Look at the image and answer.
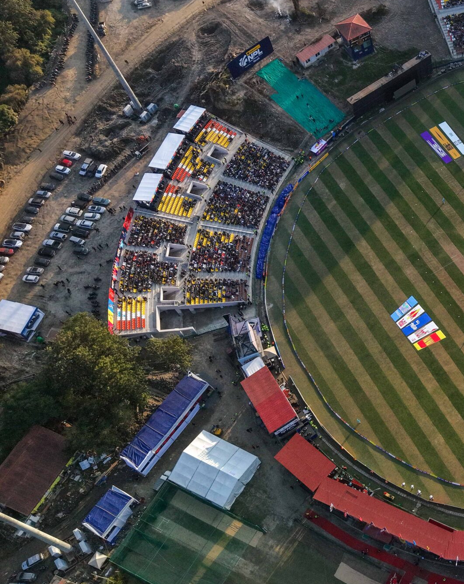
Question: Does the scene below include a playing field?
Yes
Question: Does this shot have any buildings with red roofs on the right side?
Yes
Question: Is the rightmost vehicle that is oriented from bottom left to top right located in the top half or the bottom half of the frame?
bottom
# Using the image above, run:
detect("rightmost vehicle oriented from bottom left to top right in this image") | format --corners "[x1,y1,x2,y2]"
[152,465,172,488]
